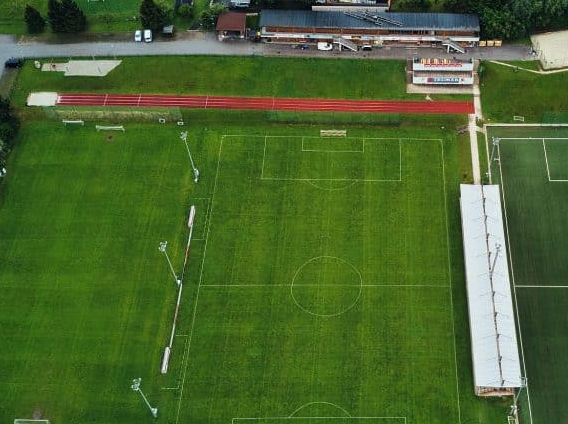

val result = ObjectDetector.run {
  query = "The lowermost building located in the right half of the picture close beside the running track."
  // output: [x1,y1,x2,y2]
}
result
[257,10,481,53]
